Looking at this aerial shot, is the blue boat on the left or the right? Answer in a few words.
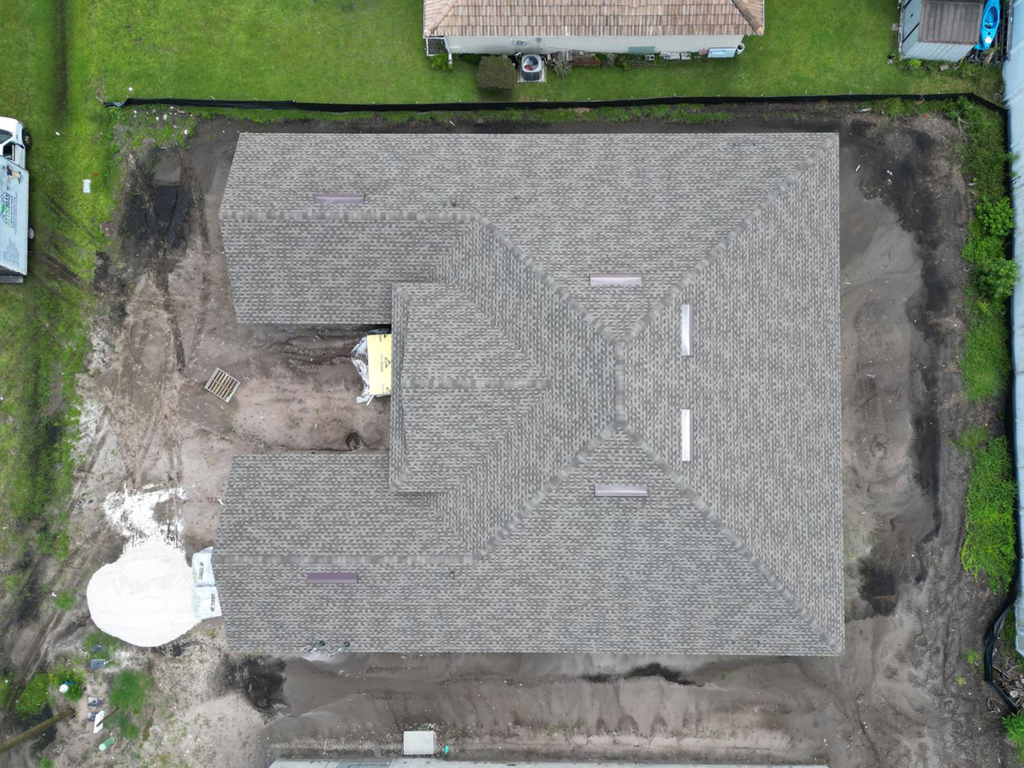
right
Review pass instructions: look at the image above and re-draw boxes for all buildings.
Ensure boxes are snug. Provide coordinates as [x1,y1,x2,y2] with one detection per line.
[902,0,983,62]
[212,132,845,655]
[272,758,828,768]
[421,0,768,62]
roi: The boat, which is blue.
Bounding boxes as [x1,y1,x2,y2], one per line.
[982,0,1005,49]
